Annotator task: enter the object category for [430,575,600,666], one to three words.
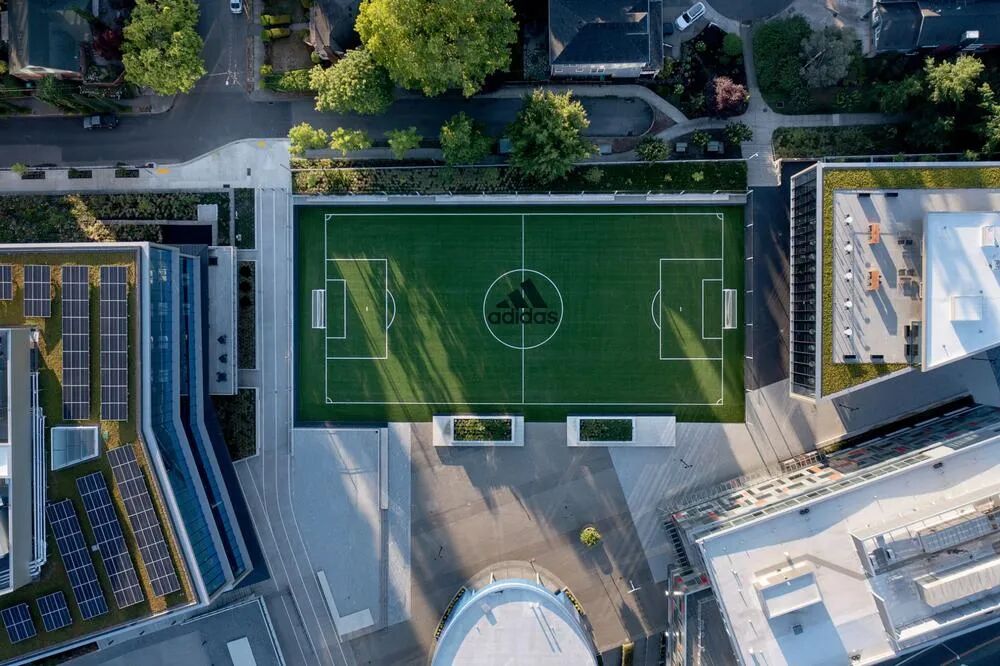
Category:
building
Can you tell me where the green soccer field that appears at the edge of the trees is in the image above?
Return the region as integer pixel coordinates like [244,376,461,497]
[294,205,746,427]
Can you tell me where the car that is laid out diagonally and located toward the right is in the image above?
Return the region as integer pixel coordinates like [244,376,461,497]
[674,1,706,33]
